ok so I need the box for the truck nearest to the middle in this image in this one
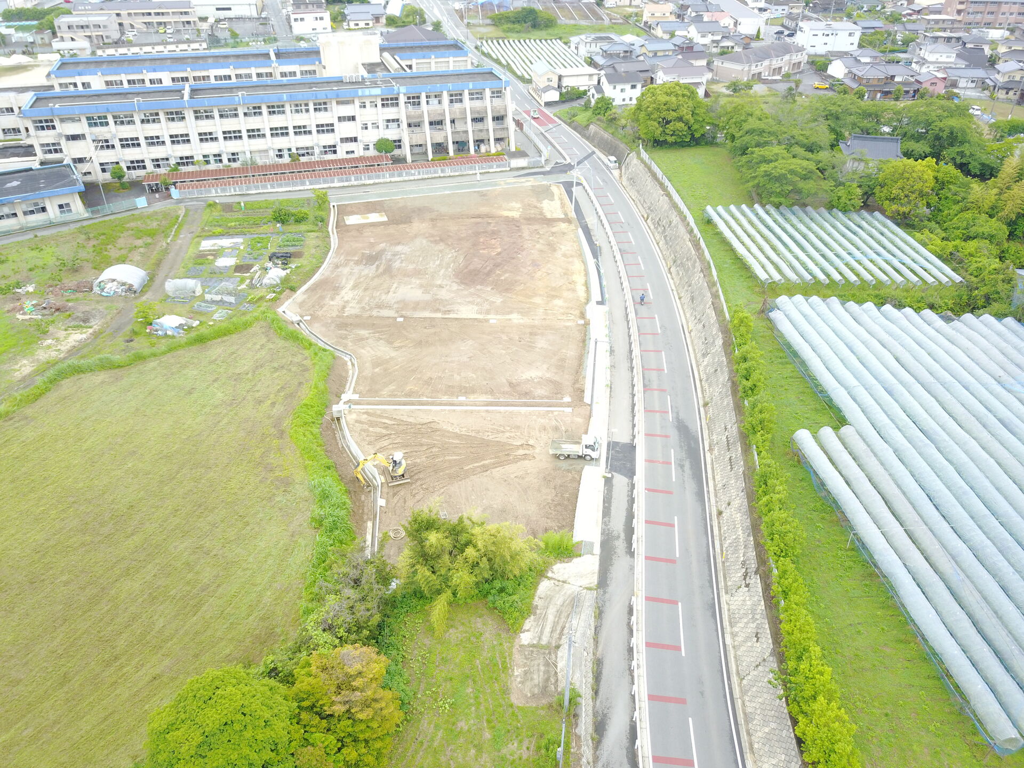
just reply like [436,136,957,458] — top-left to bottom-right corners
[550,435,601,463]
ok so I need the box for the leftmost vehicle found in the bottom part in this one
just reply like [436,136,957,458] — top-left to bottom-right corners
[354,449,407,489]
